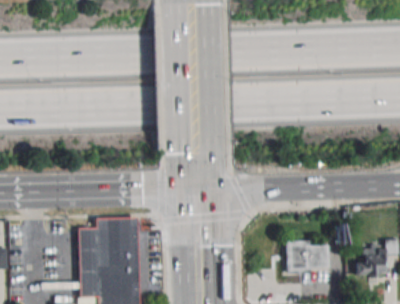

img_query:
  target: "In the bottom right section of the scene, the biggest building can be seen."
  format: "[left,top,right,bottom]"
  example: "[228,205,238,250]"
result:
[285,240,330,273]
